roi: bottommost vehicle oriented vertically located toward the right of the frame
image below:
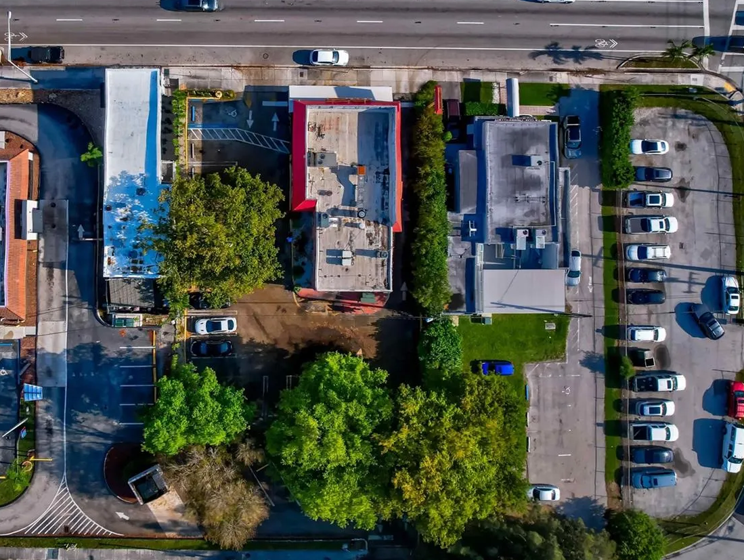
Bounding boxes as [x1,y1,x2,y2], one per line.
[722,420,744,470]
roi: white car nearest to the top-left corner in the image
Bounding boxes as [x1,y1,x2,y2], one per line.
[309,48,348,67]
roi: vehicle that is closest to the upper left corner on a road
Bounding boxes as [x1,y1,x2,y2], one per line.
[28,44,65,64]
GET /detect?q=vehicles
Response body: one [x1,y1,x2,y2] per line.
[633,374,687,394]
[180,0,219,14]
[624,215,677,234]
[624,189,673,210]
[625,267,667,285]
[633,165,674,183]
[523,483,563,503]
[28,44,65,64]
[690,303,726,342]
[627,325,666,344]
[722,420,744,470]
[720,275,743,314]
[624,242,671,261]
[625,288,667,306]
[631,468,677,490]
[309,48,348,67]
[190,291,229,309]
[192,339,231,358]
[635,399,675,417]
[629,422,679,444]
[630,446,674,465]
[479,359,514,377]
[566,249,584,288]
[725,381,744,419]
[196,317,235,336]
[631,138,669,157]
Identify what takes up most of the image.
paved ground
